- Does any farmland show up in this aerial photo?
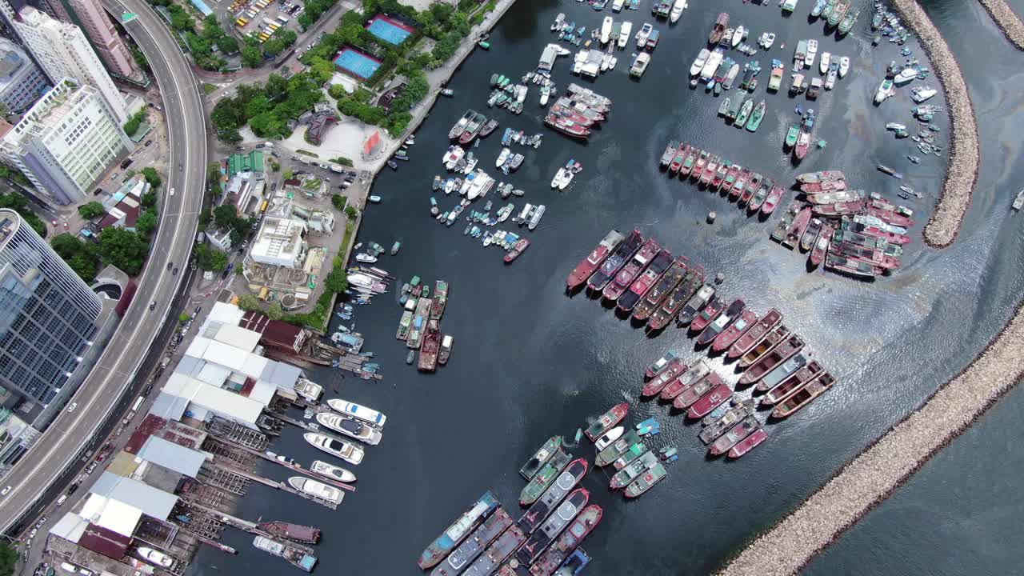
No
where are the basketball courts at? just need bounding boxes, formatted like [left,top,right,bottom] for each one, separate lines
[330,41,386,81]
[363,10,416,46]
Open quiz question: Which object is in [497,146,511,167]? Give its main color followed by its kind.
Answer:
white boat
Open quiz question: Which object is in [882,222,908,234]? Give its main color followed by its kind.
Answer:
white boat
